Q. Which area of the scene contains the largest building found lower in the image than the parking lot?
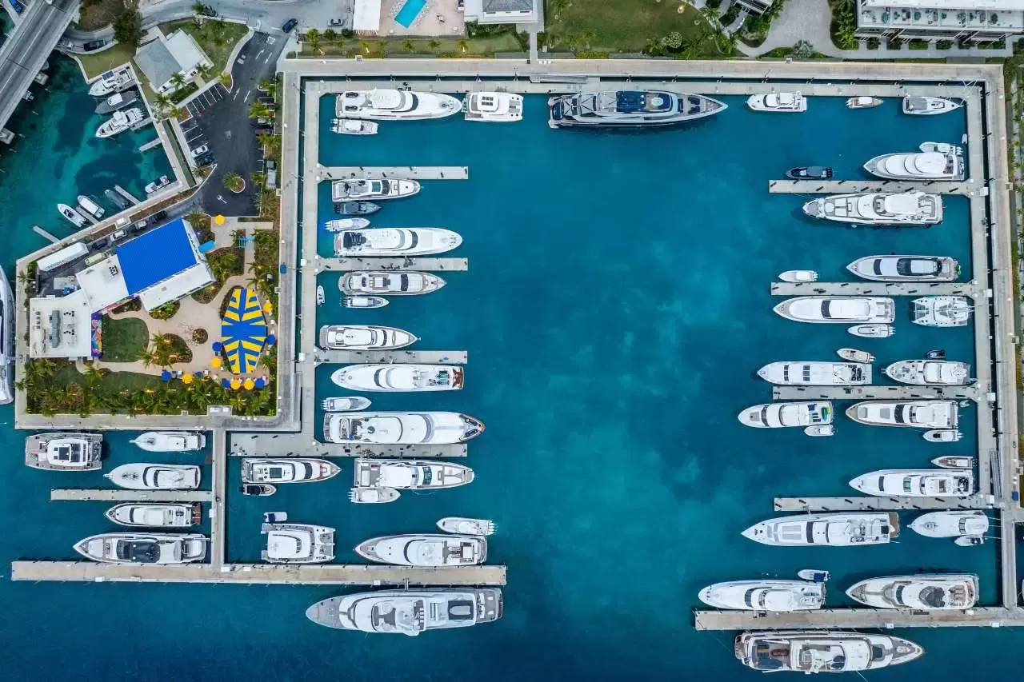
left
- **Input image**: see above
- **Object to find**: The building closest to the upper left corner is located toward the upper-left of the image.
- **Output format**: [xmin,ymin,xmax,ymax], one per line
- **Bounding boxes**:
[133,29,215,97]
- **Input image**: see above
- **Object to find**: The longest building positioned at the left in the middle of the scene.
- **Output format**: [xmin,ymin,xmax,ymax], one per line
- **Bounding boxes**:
[29,217,219,360]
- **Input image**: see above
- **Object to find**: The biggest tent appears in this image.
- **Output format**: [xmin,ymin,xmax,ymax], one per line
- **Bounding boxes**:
[222,288,268,373]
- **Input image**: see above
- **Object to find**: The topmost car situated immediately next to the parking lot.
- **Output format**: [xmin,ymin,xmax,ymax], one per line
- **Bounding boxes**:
[282,18,297,33]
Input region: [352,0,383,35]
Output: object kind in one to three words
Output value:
building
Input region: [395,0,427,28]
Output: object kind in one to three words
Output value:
swimming pool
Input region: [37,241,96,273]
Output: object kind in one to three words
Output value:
truck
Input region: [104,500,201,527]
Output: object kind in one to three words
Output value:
boat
